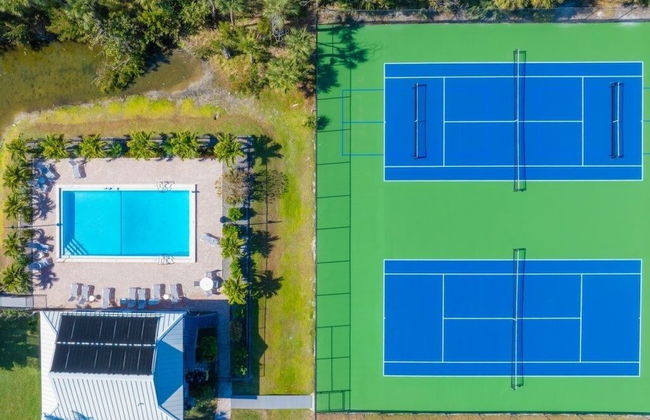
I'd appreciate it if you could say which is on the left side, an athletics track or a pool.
pool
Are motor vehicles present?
No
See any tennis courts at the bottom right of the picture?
Yes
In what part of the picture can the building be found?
bottom left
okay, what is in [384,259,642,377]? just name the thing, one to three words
tennis court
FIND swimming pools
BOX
[56,184,195,263]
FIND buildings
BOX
[39,308,190,420]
